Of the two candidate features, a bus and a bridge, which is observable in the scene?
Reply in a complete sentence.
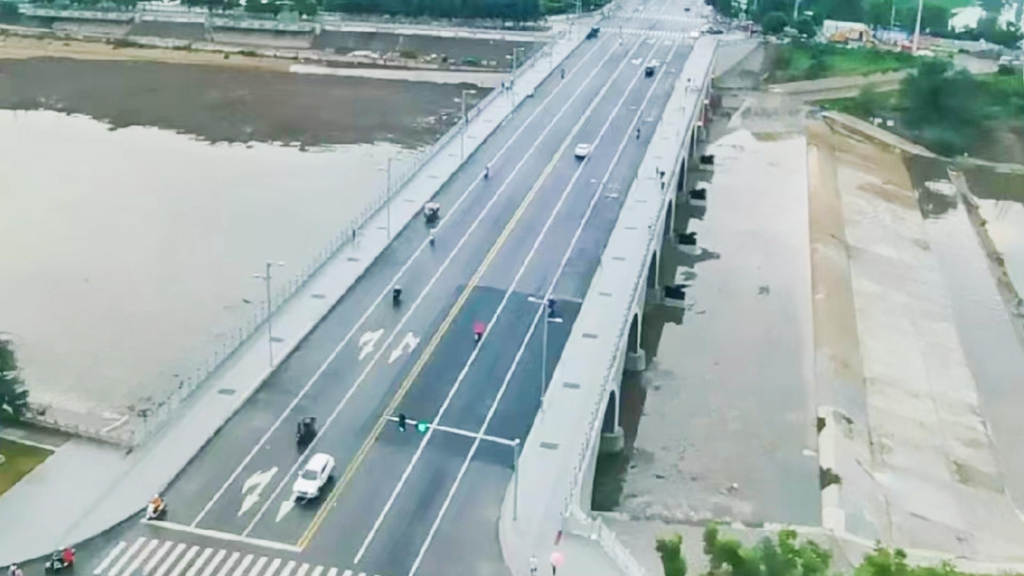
There is a bridge in the scene.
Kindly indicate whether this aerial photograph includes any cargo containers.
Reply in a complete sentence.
No, no cargo container can be seen from above.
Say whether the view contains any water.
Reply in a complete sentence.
Yes, water shows up in the scene.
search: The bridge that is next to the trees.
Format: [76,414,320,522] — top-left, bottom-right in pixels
[129,27,720,495]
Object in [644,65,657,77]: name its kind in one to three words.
vehicle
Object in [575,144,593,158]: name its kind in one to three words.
car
